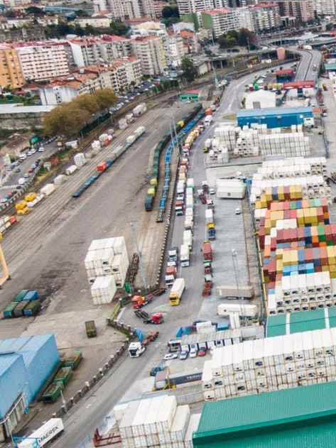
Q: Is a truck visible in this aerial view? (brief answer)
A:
Yes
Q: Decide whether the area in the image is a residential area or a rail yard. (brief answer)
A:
rail yard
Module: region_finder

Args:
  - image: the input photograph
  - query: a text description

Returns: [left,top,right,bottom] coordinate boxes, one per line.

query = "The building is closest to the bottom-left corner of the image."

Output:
[0,331,58,444]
